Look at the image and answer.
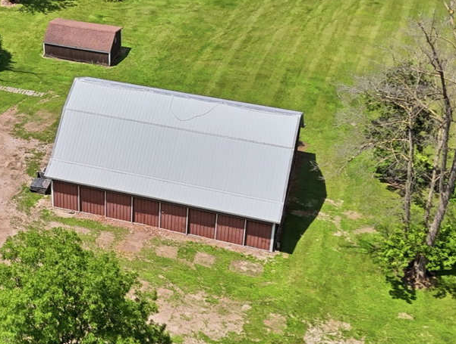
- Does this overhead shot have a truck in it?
No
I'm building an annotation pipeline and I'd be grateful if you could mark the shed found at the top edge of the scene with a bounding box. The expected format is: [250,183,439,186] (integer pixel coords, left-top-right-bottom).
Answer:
[43,14,122,65]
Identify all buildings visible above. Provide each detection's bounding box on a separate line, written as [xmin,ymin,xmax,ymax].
[41,71,307,251]
[43,14,122,65]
